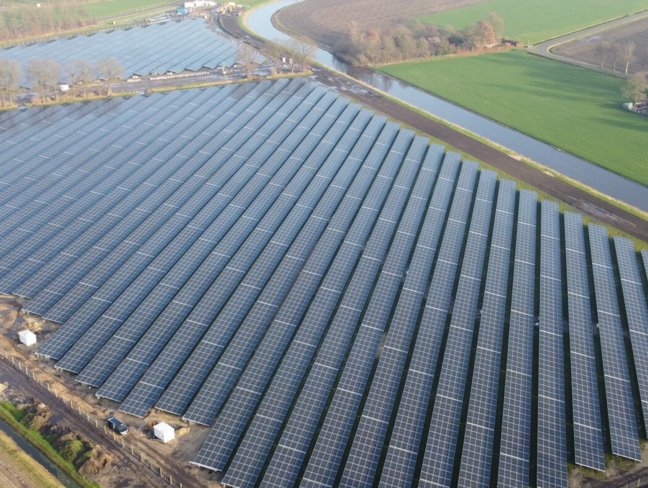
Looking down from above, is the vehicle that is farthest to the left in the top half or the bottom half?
bottom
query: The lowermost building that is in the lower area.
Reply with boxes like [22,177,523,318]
[155,419,176,443]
